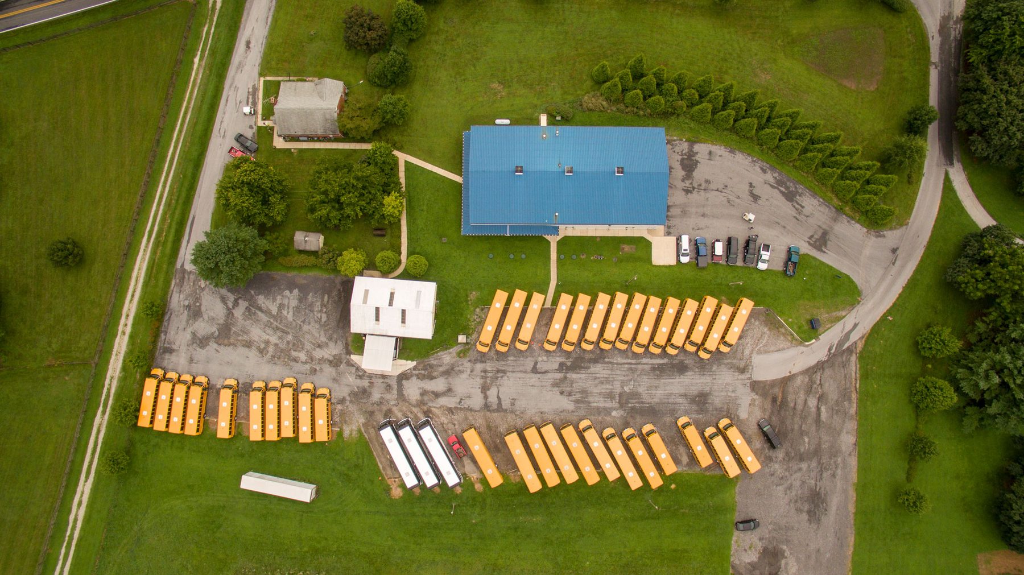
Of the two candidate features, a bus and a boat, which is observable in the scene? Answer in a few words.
bus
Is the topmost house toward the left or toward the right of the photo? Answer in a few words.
left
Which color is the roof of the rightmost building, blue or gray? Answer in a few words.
blue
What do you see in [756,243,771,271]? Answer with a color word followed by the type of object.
white vehicle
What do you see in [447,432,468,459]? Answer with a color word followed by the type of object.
red truck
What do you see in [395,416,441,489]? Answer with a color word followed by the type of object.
white bus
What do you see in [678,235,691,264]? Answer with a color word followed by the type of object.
white vehicle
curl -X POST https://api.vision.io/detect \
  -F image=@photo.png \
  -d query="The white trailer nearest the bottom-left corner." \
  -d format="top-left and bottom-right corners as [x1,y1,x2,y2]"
[240,471,316,502]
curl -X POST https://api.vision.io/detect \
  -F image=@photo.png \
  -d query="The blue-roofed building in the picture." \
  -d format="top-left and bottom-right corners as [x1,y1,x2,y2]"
[459,124,670,238]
